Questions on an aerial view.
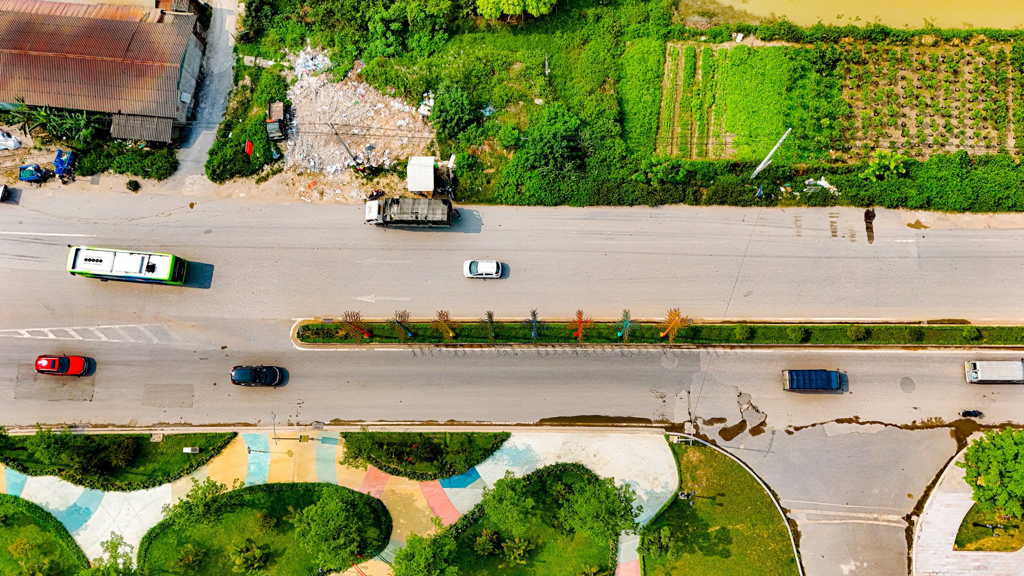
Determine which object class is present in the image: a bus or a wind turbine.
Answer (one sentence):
It is a bus that can be seen here.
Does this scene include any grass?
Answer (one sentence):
Yes, grass shows up in the scene.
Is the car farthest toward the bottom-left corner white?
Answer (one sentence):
No, from above the car farthest toward the bottom-left corner looks red.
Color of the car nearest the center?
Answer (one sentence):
The car nearest the center looks white in the image.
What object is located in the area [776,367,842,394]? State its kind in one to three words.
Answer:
truck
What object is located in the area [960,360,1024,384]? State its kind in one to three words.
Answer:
vehicle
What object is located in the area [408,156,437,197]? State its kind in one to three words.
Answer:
shed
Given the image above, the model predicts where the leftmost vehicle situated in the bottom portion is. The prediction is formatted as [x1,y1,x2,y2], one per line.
[32,352,91,377]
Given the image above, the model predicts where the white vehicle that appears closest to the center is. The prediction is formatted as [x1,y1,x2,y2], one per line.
[464,257,502,279]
